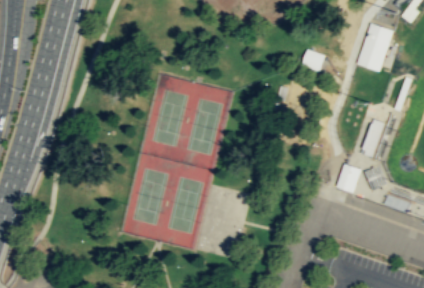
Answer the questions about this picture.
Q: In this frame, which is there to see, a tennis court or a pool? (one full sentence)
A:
Looking from above, you can make out a tennis court.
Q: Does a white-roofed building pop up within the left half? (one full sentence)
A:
No, within the left half there is no white-roofed building.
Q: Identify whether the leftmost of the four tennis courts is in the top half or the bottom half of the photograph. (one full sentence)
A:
The leftmost of the four tennis courts sits in the bottom half of the picture.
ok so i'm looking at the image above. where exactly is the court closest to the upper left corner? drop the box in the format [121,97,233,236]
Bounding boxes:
[154,90,189,147]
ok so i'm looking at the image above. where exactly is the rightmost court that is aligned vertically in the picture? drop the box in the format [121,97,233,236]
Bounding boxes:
[188,98,224,155]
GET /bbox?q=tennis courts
[133,169,169,226]
[154,90,189,147]
[168,178,204,234]
[188,98,224,155]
